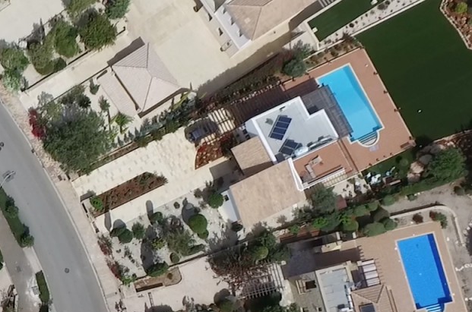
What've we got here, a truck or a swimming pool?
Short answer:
swimming pool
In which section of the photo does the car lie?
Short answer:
center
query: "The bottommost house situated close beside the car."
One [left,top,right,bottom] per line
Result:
[222,96,355,227]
